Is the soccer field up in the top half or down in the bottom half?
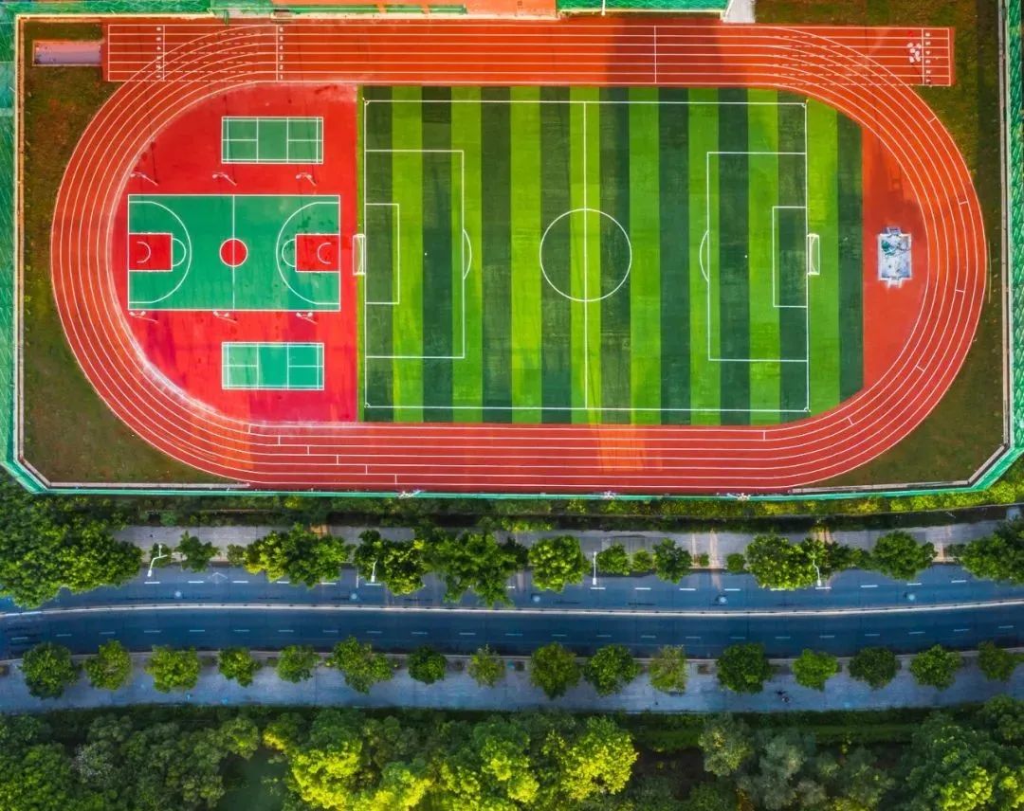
top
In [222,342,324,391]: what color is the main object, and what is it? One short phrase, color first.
green sports court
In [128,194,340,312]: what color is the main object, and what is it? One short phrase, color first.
green basketball court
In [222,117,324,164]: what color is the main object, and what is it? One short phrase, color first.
green sports court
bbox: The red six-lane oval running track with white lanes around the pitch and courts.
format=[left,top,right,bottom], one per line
[50,17,987,491]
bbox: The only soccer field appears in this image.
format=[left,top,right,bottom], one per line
[357,86,863,425]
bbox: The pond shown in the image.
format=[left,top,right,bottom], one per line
[225,754,285,811]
